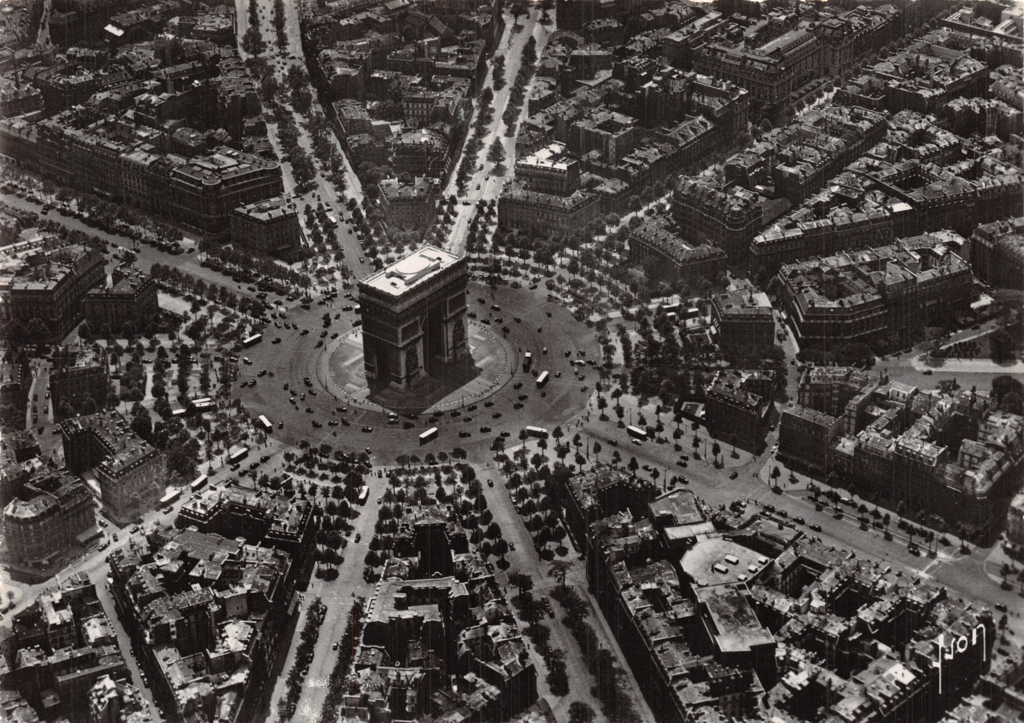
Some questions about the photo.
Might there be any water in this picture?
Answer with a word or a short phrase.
No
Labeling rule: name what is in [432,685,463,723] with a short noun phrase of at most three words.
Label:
house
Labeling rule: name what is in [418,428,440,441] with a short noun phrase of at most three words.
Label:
vehicle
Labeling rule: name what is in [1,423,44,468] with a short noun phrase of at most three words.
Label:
house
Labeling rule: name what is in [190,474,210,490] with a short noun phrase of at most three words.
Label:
vehicle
